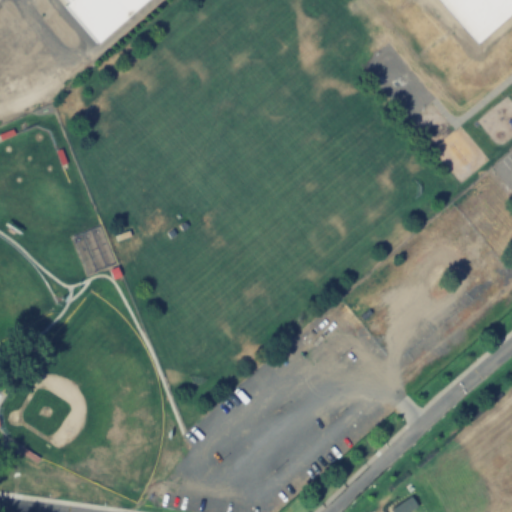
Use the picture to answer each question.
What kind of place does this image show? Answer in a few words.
sports ground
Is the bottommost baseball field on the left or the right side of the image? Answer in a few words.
left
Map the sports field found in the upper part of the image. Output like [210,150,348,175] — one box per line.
[60,0,456,400]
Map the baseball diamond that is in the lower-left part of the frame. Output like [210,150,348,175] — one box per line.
[4,292,163,502]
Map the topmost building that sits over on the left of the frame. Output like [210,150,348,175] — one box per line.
[60,0,150,44]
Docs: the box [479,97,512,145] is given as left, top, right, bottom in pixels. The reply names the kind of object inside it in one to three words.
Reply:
playground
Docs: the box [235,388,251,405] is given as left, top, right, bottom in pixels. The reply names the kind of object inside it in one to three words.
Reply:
camper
